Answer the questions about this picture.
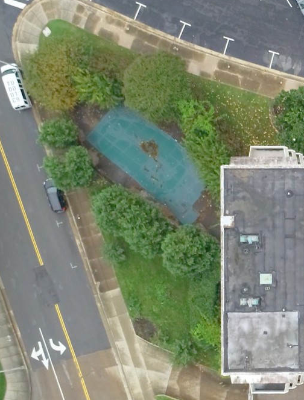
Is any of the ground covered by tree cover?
Yes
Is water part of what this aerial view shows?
No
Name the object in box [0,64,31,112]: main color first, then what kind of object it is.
white van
